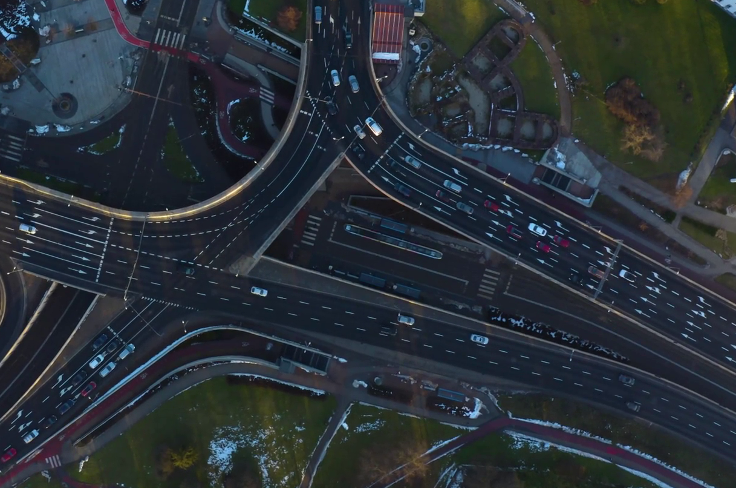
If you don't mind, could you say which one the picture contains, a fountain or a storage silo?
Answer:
fountain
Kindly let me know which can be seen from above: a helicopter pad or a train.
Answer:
train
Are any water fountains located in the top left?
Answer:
Yes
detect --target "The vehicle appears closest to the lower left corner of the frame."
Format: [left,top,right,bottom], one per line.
[0,448,17,463]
